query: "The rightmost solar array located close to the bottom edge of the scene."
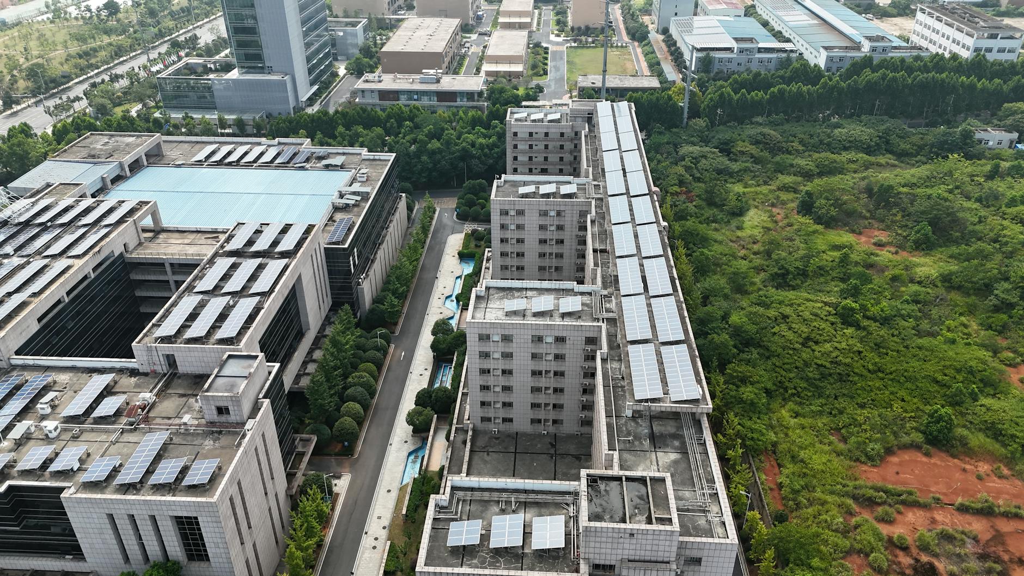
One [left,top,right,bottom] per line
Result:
[531,515,565,559]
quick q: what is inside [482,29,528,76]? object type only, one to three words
building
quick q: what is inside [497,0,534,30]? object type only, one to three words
building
